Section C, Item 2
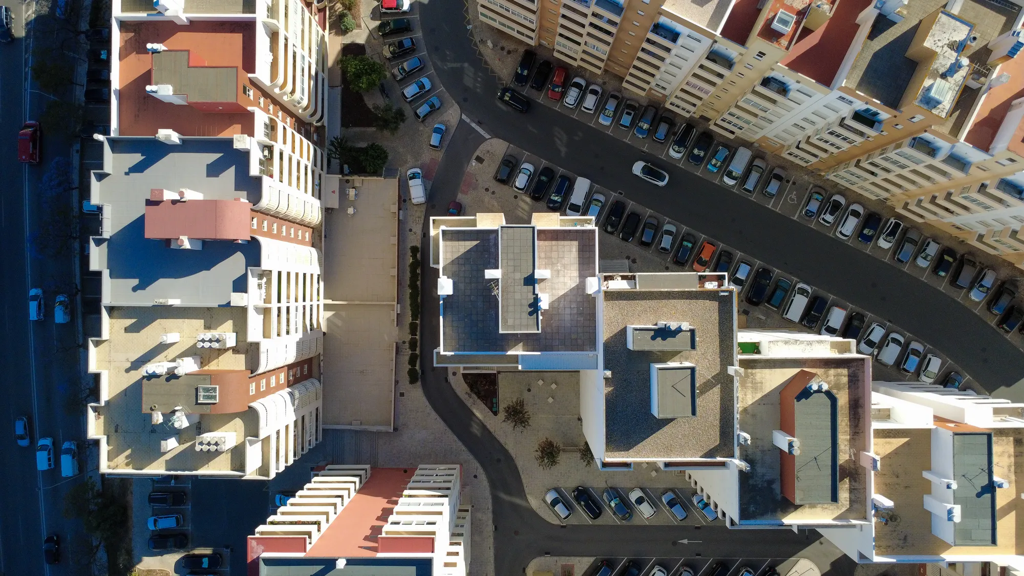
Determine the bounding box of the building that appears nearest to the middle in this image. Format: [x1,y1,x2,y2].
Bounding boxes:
[431,213,598,369]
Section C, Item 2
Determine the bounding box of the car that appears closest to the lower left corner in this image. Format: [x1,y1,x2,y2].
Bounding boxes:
[42,533,62,565]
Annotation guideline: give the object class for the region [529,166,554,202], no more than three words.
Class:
car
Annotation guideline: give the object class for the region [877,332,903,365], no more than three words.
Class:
vehicle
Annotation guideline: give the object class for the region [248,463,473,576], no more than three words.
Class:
building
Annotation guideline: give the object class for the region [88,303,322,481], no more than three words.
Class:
building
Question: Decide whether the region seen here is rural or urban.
urban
